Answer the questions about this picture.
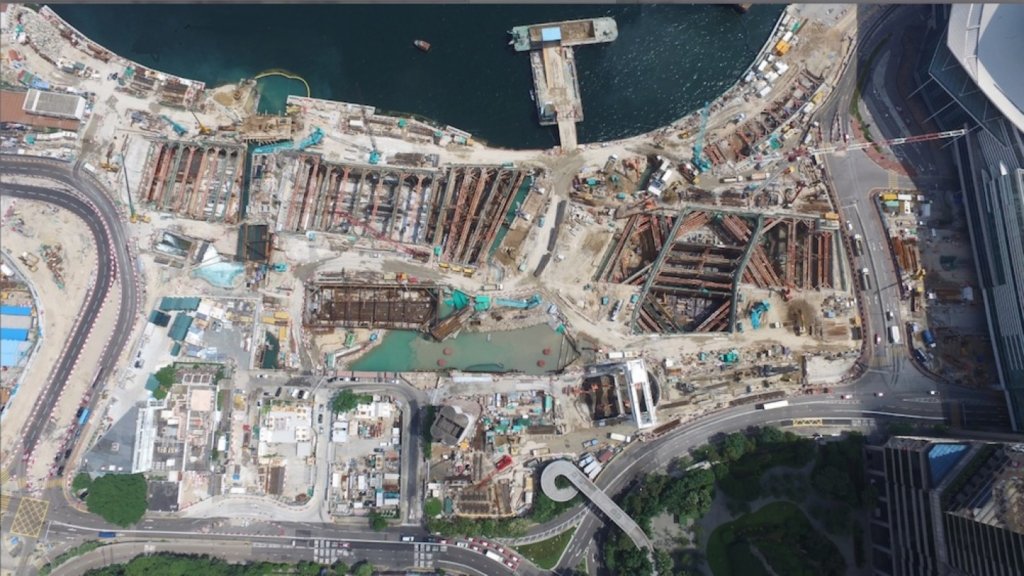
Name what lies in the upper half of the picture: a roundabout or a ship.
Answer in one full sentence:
The one visible in the upper half of the picture is a ship.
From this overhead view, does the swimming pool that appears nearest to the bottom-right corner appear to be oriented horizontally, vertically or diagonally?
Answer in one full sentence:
Seen from above, the swimming pool that appears nearest to the bottom-right corner lies diagonally.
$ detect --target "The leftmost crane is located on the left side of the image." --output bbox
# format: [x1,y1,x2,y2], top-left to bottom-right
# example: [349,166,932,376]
[120,155,145,227]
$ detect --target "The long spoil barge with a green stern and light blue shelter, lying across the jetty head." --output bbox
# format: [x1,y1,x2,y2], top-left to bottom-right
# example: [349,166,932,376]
[508,17,619,54]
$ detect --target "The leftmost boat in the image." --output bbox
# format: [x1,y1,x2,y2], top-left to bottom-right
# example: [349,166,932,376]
[415,39,430,52]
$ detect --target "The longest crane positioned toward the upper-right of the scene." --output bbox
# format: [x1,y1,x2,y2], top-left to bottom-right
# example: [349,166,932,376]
[737,128,968,178]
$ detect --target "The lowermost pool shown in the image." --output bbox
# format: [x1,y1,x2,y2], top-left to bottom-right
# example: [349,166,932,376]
[934,445,968,483]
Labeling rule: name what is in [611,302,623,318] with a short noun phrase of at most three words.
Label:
vehicle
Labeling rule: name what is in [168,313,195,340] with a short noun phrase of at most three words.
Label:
shed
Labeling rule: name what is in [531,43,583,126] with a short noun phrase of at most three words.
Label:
ship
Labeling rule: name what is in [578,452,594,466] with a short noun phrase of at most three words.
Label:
vehicle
